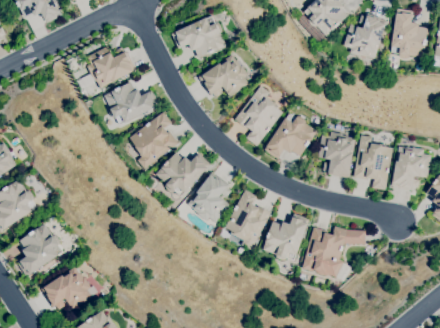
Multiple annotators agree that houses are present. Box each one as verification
[226,191,268,248]
[104,84,158,126]
[392,10,428,58]
[0,182,35,234]
[16,0,62,23]
[129,113,179,170]
[78,314,114,328]
[300,0,355,36]
[234,85,282,144]
[391,147,434,196]
[318,132,358,177]
[353,134,394,190]
[346,13,388,64]
[154,144,212,200]
[266,114,316,160]
[188,172,232,226]
[42,268,98,310]
[176,16,226,58]
[0,146,16,175]
[198,55,249,98]
[303,226,366,276]
[18,228,60,279]
[428,174,440,219]
[263,216,309,263]
[87,46,136,86]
